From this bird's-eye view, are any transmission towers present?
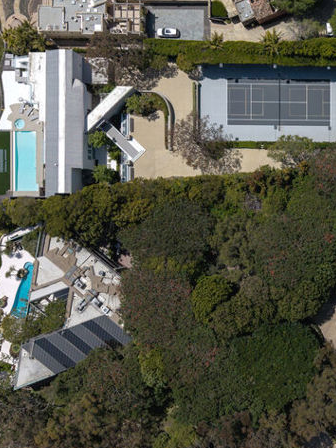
No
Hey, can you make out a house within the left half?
Yes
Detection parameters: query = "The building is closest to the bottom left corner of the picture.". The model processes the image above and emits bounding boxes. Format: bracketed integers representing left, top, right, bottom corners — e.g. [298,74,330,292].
[16,234,132,389]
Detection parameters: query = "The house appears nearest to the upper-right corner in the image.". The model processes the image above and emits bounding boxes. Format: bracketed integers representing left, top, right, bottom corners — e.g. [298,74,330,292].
[235,0,274,26]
